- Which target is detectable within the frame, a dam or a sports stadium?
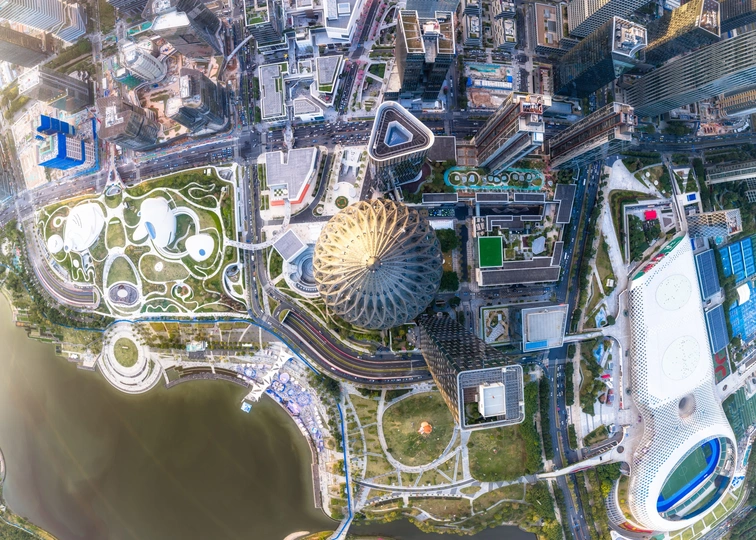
sports stadium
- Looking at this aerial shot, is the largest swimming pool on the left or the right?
right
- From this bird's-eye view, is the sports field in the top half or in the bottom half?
bottom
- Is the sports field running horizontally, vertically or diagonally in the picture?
diagonally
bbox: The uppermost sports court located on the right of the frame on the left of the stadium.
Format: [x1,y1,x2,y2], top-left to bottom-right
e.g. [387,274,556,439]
[481,238,502,267]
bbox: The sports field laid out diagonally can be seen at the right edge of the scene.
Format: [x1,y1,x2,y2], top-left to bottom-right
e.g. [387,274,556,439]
[663,447,718,502]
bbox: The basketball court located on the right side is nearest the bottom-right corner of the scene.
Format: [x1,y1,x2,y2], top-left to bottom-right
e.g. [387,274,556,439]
[713,346,733,386]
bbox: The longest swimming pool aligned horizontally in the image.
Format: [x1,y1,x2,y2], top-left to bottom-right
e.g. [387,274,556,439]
[443,165,546,192]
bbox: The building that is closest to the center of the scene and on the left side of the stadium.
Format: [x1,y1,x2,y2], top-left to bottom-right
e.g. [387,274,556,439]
[313,205,441,332]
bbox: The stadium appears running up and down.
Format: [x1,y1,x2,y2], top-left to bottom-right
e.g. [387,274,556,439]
[608,235,741,538]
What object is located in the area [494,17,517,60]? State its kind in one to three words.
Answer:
building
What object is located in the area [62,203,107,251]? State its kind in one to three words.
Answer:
building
